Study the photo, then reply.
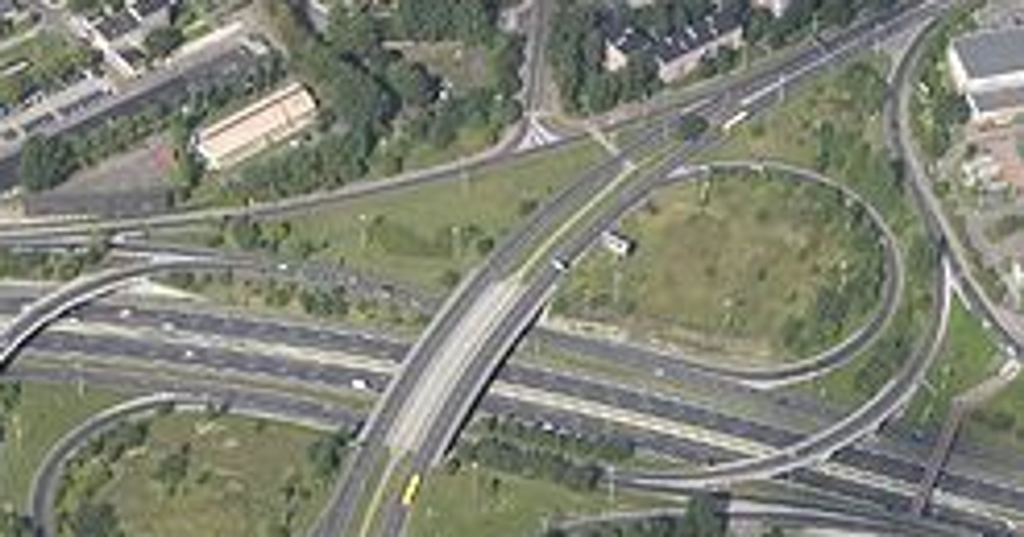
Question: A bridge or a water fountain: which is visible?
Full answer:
This aerial view contains a bridge.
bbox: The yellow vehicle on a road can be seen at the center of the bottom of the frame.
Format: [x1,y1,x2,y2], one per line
[402,470,422,505]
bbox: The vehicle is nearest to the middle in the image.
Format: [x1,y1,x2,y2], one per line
[553,256,566,269]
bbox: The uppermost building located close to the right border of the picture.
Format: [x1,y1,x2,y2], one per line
[944,24,1024,99]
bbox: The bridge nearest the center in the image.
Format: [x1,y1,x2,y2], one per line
[359,278,547,451]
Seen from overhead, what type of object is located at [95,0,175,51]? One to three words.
house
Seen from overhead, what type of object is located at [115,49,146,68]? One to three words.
building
